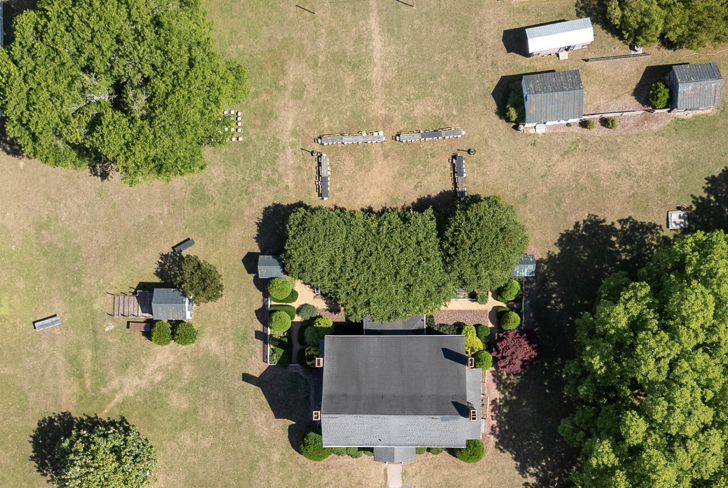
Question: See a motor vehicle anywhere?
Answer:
No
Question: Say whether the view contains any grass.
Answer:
Yes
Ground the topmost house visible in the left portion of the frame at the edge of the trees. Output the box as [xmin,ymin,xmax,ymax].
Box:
[258,255,283,279]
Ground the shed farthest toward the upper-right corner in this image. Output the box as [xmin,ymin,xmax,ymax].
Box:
[663,61,725,117]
